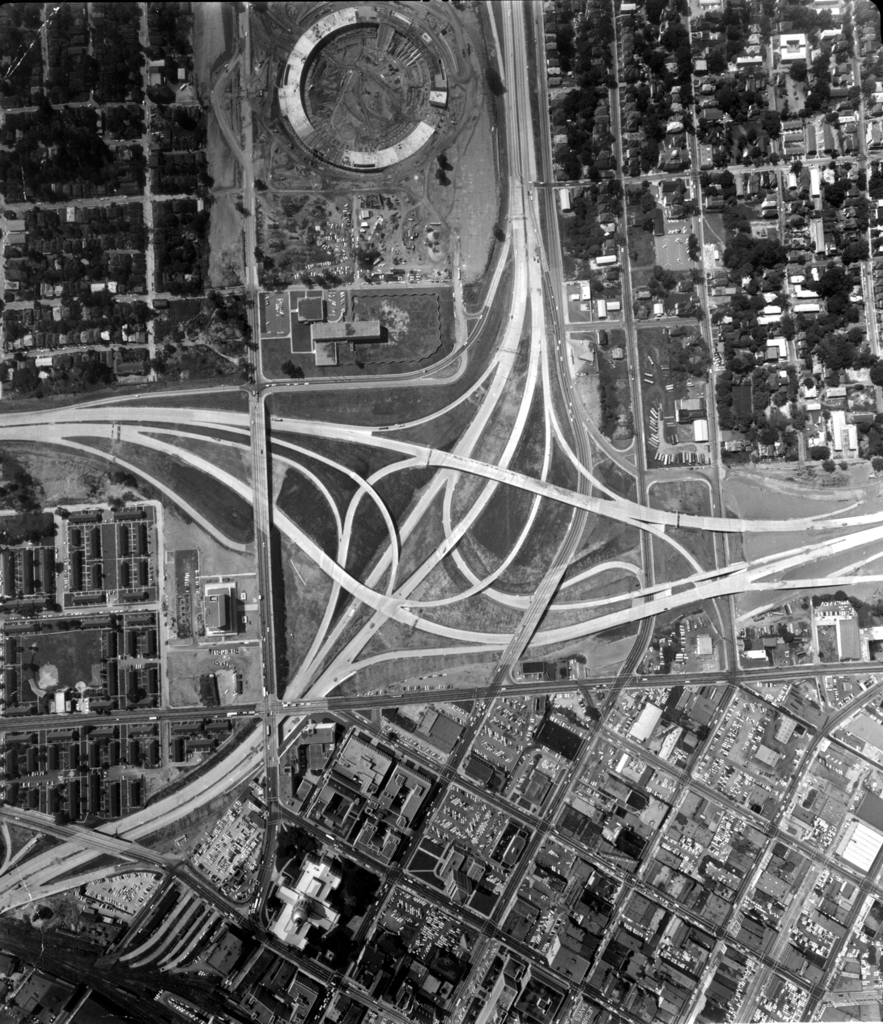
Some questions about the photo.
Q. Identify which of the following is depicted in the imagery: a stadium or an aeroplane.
stadium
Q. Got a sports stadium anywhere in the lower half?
No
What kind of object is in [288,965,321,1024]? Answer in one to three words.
building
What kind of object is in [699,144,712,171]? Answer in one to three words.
building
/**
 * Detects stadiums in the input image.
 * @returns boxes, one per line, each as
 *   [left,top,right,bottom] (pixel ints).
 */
[278,6,446,175]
